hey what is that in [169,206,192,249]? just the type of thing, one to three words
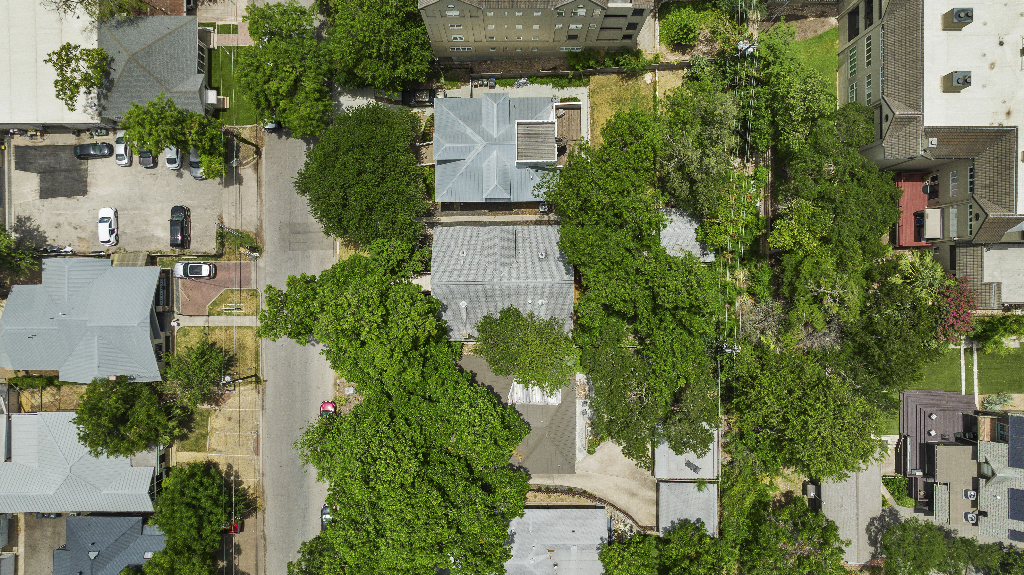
car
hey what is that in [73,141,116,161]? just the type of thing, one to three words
car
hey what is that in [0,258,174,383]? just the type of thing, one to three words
house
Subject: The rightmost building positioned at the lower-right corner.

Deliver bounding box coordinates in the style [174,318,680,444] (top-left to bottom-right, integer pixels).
[923,409,1024,541]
